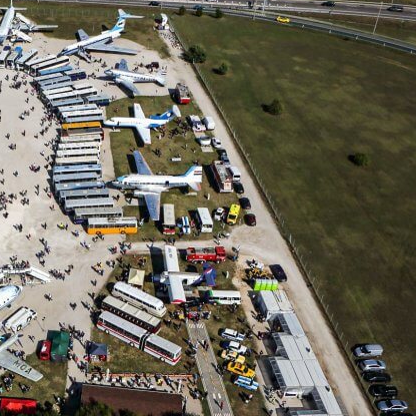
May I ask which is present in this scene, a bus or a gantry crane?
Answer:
bus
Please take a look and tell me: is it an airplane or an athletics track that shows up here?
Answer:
airplane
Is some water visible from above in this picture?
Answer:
No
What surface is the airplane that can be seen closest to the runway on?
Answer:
grass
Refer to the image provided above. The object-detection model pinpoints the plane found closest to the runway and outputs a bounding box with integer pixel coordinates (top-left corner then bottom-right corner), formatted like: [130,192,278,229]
[151,244,219,302]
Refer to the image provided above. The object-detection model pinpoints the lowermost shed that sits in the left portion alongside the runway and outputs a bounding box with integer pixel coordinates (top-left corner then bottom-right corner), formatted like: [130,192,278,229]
[82,384,183,416]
